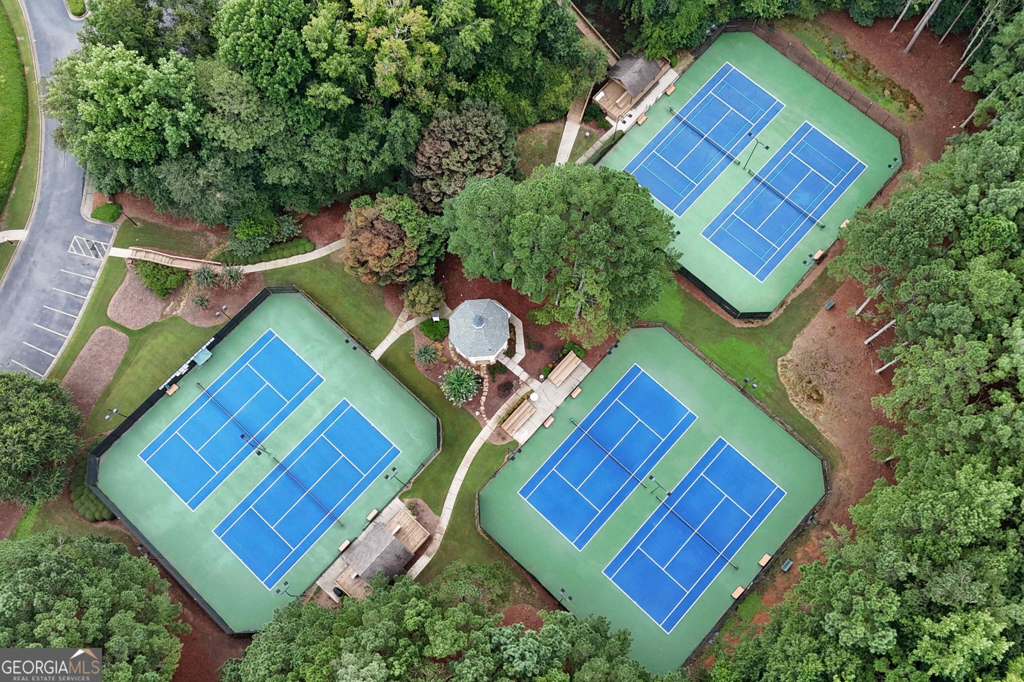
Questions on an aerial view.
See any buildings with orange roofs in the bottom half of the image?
No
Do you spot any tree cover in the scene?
Yes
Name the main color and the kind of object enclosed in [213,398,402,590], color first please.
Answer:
blue tennis court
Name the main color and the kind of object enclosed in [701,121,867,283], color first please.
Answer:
blue tennis court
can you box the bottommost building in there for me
[334,509,430,608]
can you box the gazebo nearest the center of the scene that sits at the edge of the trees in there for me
[449,301,512,365]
